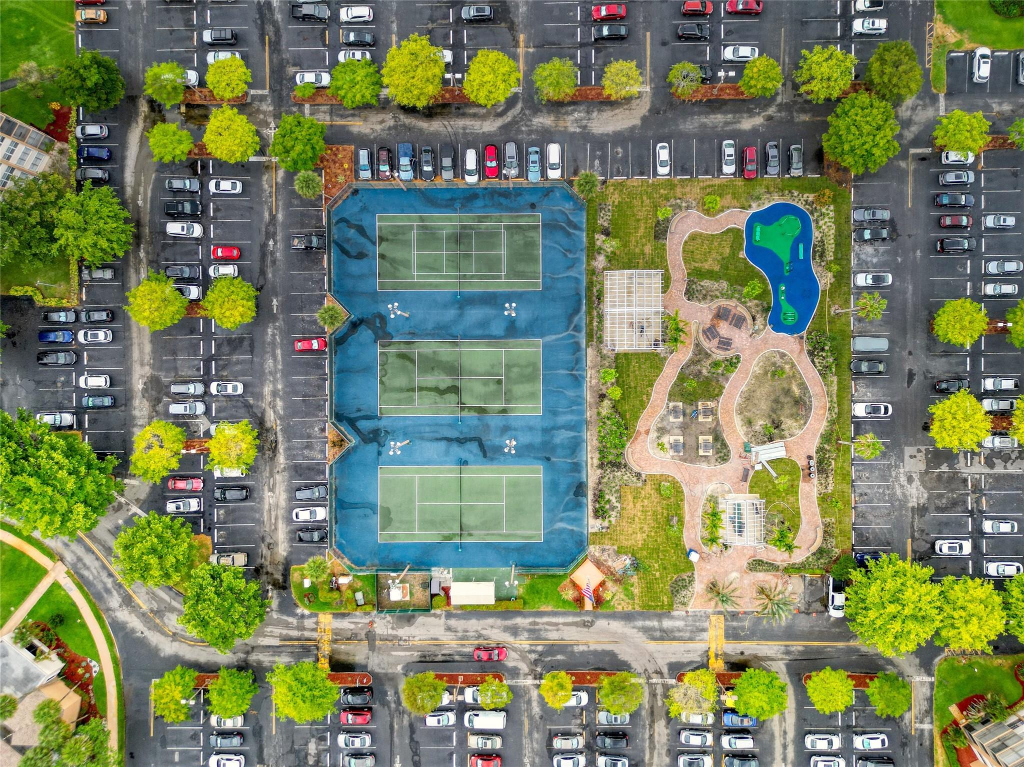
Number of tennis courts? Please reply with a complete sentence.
Looking from above, you can make out 3 tennis courts.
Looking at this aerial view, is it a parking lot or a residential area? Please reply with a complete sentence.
It's a parking lot.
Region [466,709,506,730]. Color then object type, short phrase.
white vehicle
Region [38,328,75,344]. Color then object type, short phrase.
blue car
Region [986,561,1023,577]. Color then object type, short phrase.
white car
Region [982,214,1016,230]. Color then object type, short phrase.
white car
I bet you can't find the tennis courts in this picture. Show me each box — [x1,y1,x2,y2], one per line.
[378,334,542,424]
[379,458,543,553]
[377,202,542,299]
